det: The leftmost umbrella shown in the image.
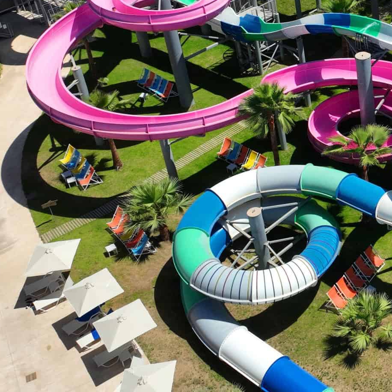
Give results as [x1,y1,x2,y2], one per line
[27,239,81,296]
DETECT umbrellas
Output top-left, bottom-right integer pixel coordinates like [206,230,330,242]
[122,358,174,392]
[27,239,81,296]
[62,269,125,319]
[93,300,157,366]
